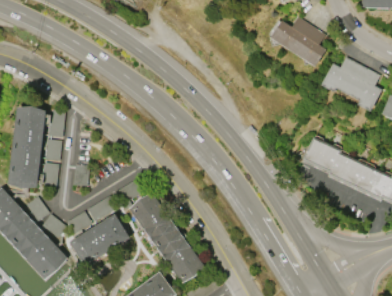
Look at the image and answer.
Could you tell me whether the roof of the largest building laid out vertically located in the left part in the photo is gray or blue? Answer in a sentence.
The roof of the largest building laid out vertically located in the left part looks gray in the image.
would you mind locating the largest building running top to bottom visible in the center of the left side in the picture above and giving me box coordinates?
[8,107,46,188]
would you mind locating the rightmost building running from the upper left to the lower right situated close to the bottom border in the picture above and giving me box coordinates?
[130,196,203,282]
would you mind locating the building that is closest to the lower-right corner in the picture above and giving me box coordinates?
[304,138,392,204]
